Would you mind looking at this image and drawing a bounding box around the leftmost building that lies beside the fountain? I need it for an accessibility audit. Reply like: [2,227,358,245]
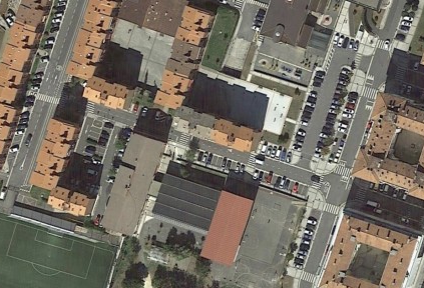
[259,0,315,48]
